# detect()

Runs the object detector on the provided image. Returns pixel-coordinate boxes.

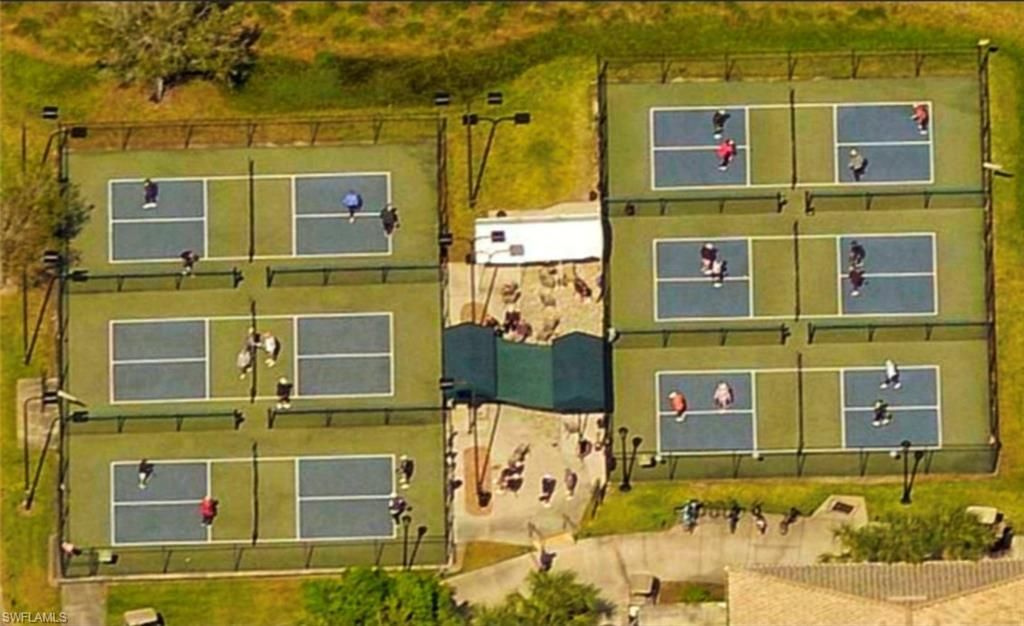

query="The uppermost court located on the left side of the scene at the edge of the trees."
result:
[63,142,444,291]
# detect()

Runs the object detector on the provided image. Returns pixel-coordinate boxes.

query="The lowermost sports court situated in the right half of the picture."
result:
[607,339,995,481]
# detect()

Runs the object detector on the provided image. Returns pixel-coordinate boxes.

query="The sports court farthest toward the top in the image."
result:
[603,76,985,215]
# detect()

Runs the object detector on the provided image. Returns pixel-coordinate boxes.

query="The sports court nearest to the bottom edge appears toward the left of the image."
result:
[60,423,447,578]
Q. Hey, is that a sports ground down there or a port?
sports ground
